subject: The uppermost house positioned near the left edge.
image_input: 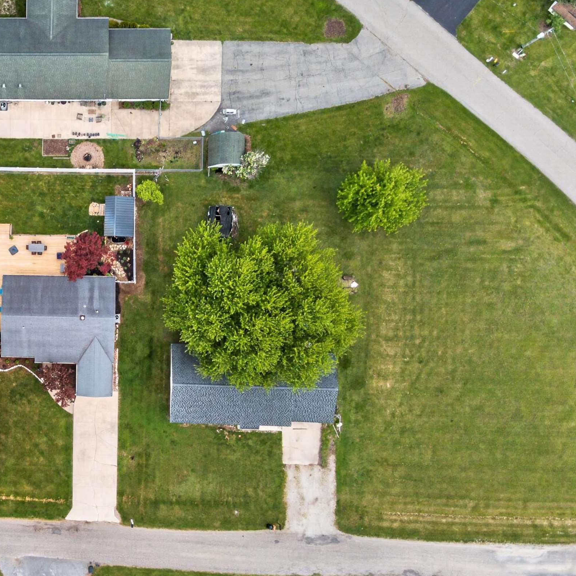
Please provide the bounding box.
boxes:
[0,0,172,101]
